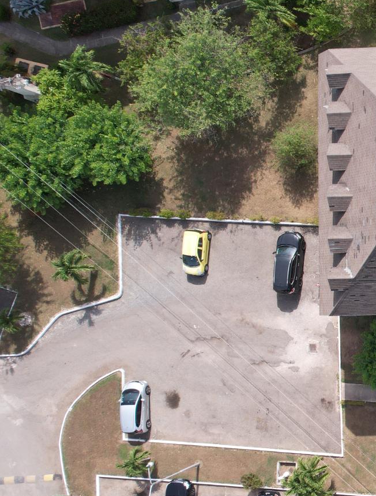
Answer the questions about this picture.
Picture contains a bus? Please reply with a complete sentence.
No, I can see no bus in this picture.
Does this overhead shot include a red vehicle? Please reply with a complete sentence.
No, I can see no red vehicle in this picture.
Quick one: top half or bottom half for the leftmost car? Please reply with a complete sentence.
Seen from above, the leftmost car lies in the bottom half of the view.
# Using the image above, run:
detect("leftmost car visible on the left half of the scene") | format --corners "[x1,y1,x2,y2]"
[111,380,150,436]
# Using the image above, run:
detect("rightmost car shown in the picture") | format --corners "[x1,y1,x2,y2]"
[268,231,305,295]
